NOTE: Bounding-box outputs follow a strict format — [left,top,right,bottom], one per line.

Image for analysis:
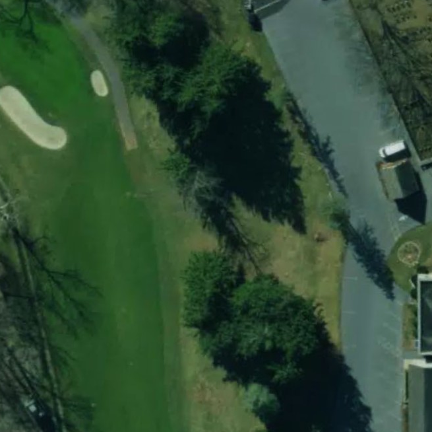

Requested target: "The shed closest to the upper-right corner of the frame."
[379,156,425,201]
